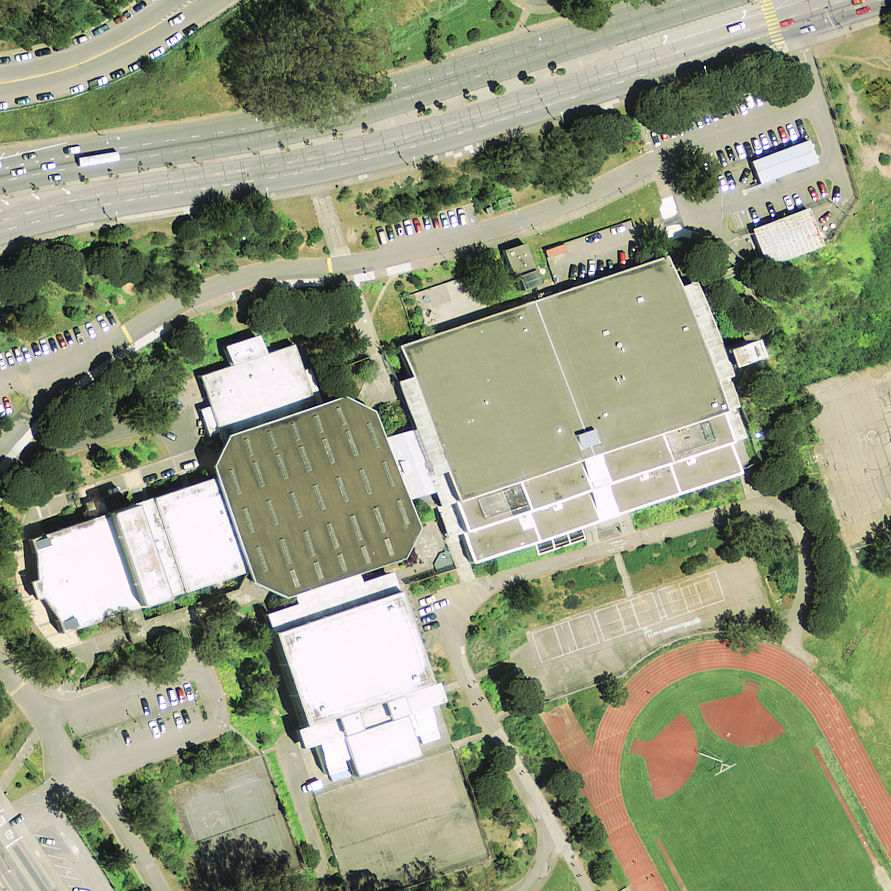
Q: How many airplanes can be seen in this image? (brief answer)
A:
0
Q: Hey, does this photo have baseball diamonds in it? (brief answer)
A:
Yes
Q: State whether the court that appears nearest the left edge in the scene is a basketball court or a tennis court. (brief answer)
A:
tennis court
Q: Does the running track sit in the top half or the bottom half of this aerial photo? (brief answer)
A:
bottom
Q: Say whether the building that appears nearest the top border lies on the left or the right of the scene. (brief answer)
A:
right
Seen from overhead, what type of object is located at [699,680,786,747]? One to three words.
baseball field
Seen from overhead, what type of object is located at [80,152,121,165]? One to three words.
vehicle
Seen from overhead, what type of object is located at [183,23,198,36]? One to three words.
vehicle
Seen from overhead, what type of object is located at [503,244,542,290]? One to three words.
building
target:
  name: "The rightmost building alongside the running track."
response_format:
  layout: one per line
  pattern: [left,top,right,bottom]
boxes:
[399,256,747,563]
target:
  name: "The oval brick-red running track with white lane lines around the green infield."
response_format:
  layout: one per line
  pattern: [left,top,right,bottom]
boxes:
[542,640,891,891]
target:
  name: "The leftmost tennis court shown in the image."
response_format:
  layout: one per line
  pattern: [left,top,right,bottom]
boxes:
[171,757,298,881]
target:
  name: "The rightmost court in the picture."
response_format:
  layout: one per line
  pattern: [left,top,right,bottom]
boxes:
[511,556,775,700]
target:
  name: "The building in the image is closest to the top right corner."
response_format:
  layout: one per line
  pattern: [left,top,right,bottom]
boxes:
[743,141,819,195]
